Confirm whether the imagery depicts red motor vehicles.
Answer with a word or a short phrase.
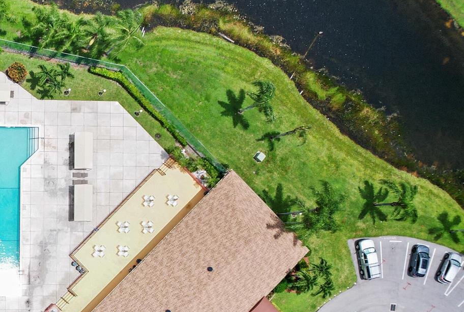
No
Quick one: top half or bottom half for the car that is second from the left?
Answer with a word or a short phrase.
bottom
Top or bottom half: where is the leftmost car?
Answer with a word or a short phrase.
bottom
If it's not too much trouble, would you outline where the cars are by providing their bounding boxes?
[437,250,464,286]
[354,241,380,280]
[406,244,428,278]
